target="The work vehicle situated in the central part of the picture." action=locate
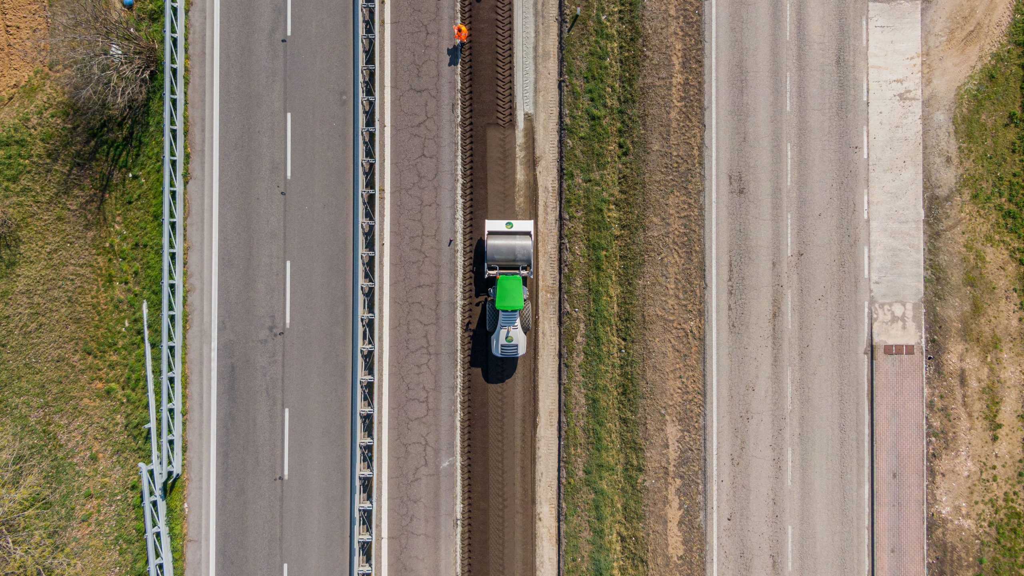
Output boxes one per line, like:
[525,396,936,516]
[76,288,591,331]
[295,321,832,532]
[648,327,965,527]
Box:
[480,220,533,357]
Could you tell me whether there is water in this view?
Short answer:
No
